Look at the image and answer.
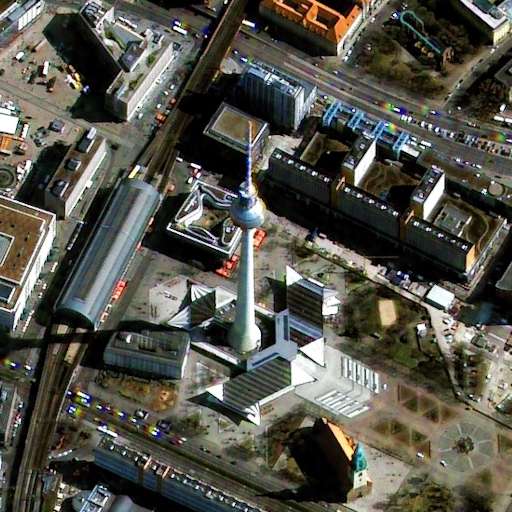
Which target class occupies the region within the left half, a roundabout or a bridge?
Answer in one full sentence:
It is a bridge that can be seen within the left half.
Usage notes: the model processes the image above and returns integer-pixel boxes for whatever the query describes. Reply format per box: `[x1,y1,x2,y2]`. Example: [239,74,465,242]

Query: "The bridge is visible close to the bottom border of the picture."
[11,318,94,512]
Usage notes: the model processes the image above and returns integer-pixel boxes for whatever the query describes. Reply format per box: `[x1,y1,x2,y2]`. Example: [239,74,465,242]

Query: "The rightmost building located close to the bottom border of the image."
[312,418,376,507]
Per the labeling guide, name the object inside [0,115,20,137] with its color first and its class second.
white tent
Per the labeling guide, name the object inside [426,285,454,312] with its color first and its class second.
white tent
